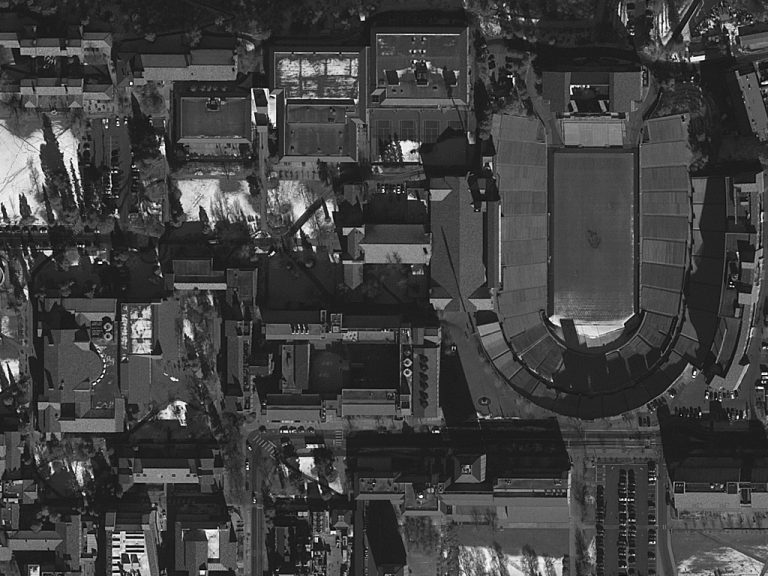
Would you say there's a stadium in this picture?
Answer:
Yes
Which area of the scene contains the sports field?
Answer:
right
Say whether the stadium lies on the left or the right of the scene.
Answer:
right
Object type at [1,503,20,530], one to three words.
house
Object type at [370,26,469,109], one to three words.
building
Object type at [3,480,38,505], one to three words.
house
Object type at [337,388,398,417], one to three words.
building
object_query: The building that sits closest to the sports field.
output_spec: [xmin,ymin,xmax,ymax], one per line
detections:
[556,112,628,148]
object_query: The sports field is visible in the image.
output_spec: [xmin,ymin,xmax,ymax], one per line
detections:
[547,146,640,353]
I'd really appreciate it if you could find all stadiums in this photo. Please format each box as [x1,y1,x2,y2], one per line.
[477,112,728,420]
